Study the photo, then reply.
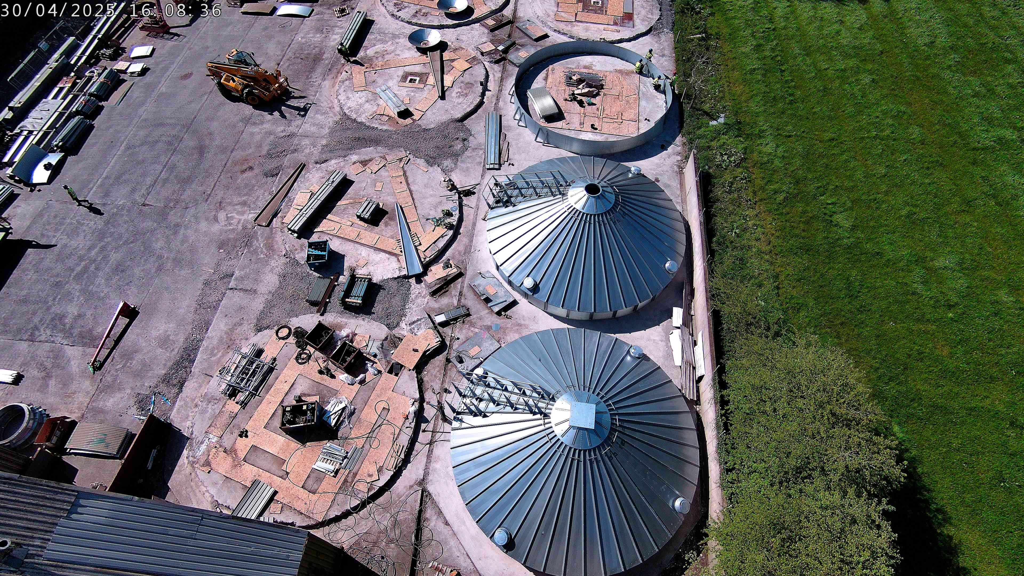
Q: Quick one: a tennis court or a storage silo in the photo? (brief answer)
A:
storage silo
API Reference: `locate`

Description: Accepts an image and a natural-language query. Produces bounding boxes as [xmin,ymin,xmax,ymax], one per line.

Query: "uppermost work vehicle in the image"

[201,47,304,111]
